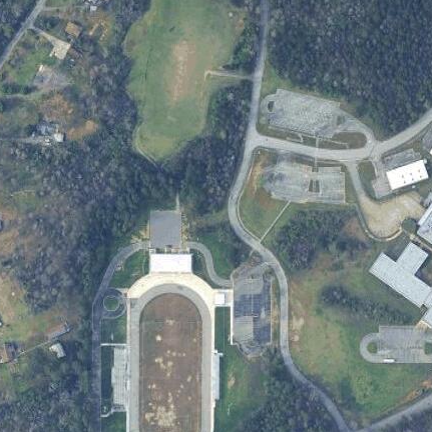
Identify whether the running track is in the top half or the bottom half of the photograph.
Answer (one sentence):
The running track sits in the bottom half of the picture.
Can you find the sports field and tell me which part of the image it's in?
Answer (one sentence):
Look in the bottom portion of the view to spot the sports field.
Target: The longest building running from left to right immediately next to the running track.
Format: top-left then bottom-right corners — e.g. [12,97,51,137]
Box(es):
[150,254,192,274]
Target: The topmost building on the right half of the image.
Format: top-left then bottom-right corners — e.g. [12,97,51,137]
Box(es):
[385,160,429,190]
